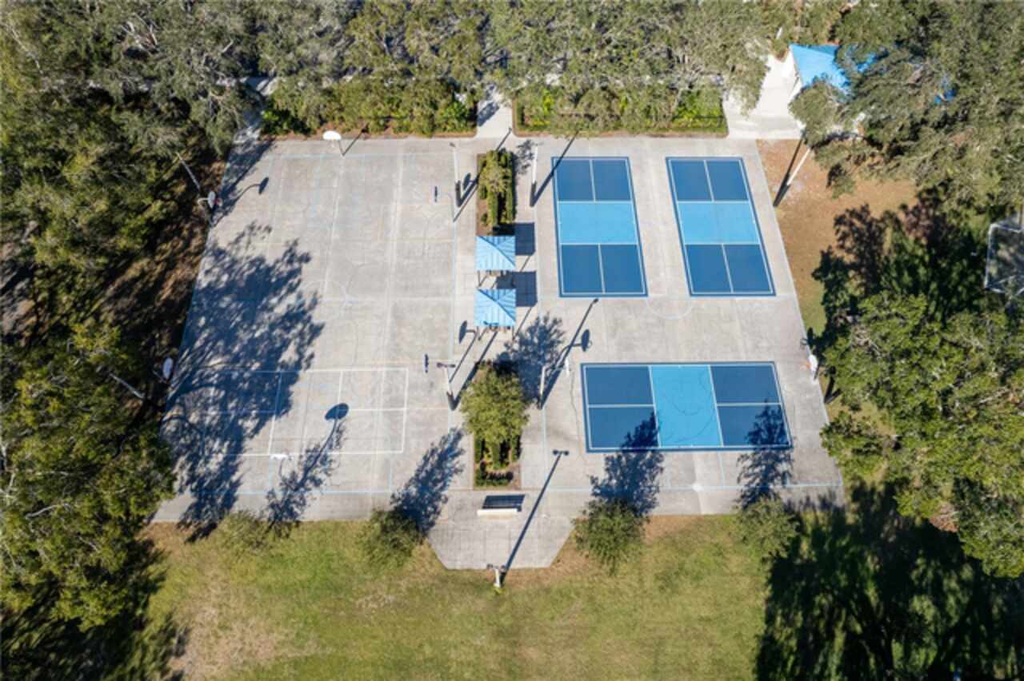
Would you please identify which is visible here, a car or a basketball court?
basketball court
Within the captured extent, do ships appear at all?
No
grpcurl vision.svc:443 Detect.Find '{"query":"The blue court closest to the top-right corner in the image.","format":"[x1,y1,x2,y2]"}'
[666,156,776,296]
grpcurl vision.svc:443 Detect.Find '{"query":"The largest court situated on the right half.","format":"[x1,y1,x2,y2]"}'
[530,138,839,492]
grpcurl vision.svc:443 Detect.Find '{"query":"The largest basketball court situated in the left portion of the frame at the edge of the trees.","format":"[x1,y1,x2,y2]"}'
[150,138,458,497]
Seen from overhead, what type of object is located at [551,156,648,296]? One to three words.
sports court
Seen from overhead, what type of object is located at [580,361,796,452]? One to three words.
sports court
